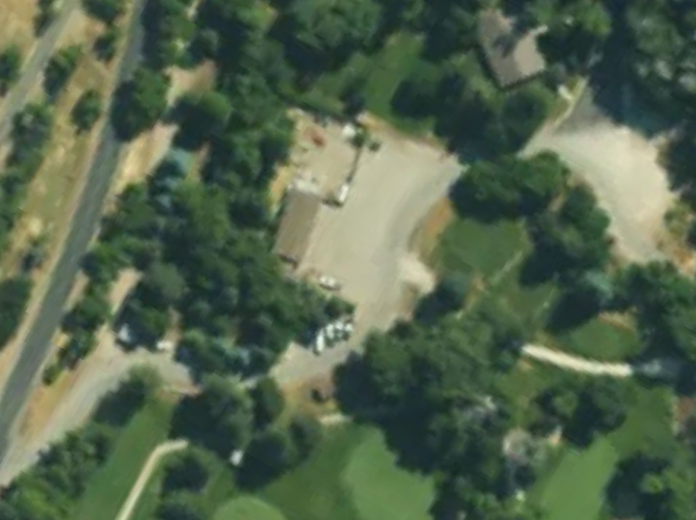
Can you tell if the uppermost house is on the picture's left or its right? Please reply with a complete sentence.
You can find the uppermost house on the right side of the picture.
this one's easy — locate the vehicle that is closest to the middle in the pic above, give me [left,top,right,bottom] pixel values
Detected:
[320,275,339,287]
